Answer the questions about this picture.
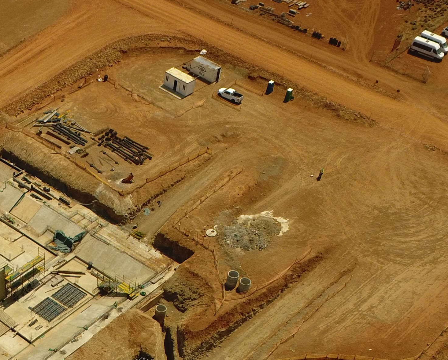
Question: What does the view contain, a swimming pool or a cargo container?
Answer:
cargo container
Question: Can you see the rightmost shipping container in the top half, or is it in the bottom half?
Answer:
top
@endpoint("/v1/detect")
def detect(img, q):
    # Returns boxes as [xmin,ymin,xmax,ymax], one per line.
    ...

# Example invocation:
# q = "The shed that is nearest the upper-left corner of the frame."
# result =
[157,68,196,100]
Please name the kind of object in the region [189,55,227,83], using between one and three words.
shipping container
